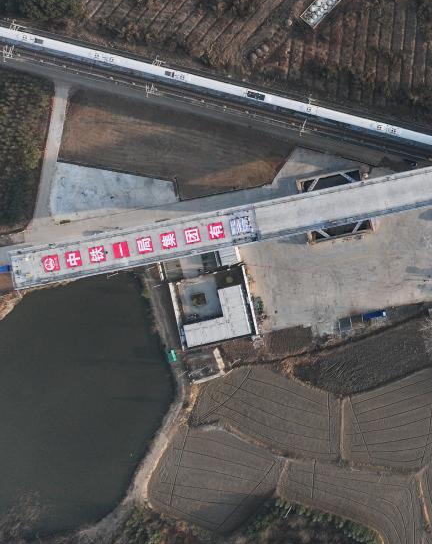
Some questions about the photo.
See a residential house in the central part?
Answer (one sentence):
Yes, looking in the central part, one can make out a residential house.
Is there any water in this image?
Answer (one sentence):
Yes, water shows up in the scene.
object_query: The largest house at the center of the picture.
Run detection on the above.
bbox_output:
[184,284,254,347]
